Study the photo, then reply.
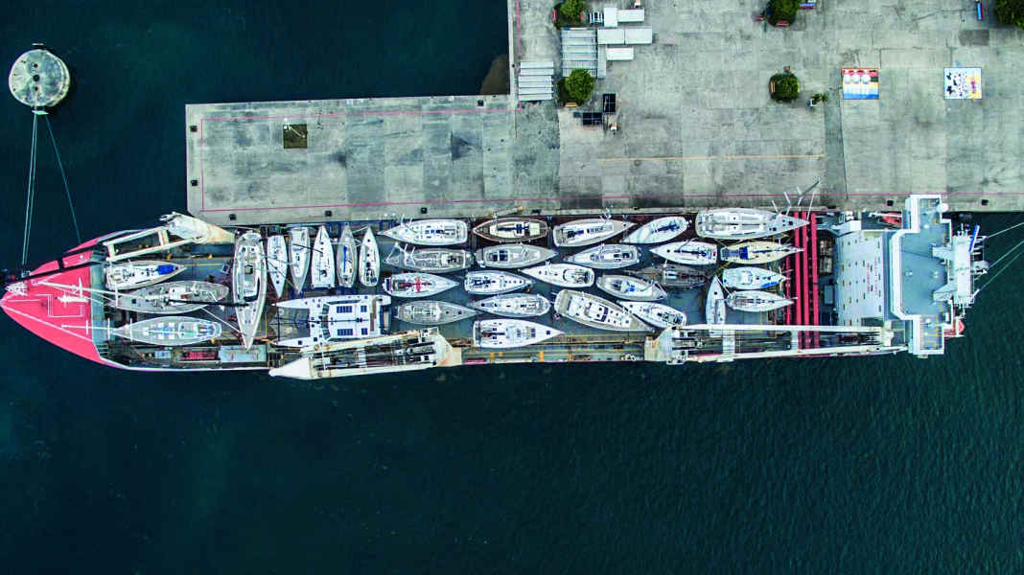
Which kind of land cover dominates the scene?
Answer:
water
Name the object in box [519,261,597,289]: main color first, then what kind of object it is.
white boat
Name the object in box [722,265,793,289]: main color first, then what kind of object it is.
white boat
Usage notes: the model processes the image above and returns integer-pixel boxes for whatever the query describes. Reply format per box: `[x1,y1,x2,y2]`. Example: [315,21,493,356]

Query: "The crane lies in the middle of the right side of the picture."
[643,325,907,365]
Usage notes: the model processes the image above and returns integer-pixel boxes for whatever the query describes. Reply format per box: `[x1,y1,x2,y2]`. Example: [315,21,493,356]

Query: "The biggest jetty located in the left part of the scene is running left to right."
[186,93,559,228]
